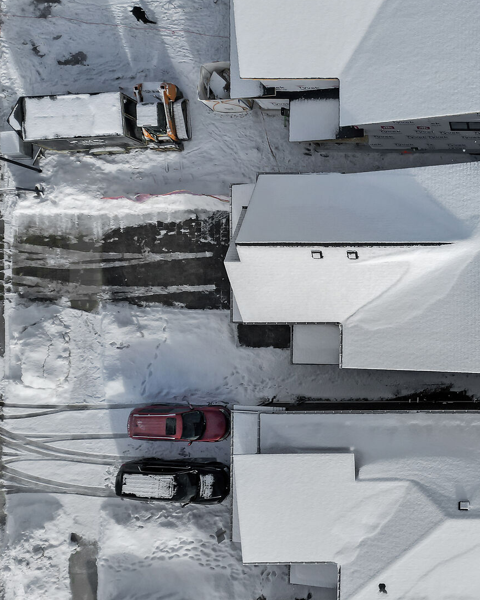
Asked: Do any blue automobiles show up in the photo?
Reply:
No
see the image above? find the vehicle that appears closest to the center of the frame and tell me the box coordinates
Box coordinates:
[127,402,230,450]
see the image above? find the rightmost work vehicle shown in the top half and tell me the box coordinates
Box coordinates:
[131,76,185,161]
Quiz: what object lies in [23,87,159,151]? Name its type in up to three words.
trailer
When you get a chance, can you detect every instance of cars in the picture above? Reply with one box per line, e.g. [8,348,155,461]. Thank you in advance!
[115,457,230,509]
[127,402,230,450]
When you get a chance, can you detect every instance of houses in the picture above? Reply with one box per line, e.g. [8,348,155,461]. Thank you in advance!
[229,0,480,149]
[223,159,480,372]
[230,400,480,600]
